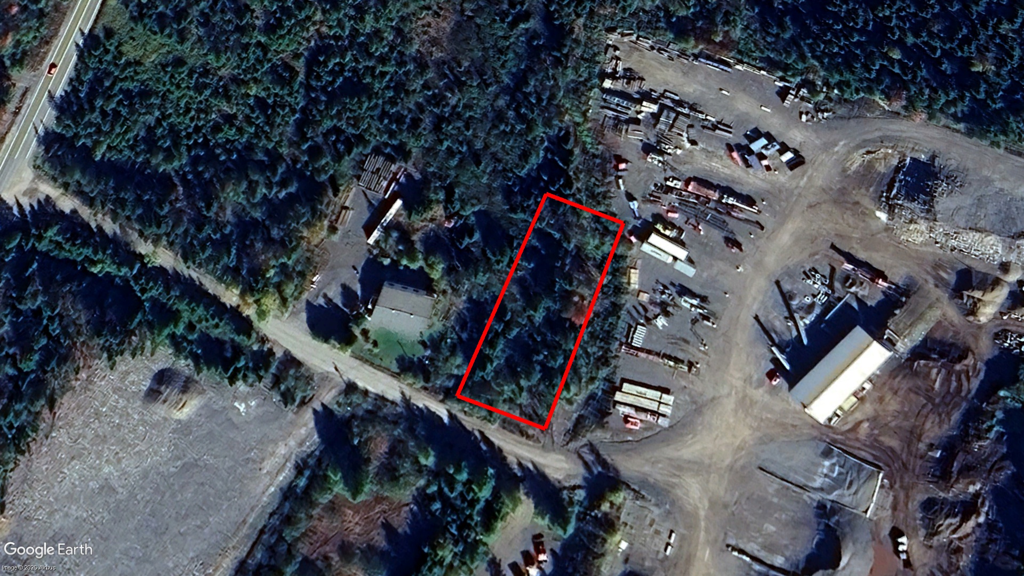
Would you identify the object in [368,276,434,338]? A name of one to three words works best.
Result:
house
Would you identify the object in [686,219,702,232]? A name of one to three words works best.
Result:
vehicle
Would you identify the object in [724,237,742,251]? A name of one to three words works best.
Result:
car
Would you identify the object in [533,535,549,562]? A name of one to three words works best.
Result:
vehicle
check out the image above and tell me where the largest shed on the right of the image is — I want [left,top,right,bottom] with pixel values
[790,320,893,424]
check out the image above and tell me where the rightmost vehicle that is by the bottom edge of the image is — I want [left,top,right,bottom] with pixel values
[893,531,909,561]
